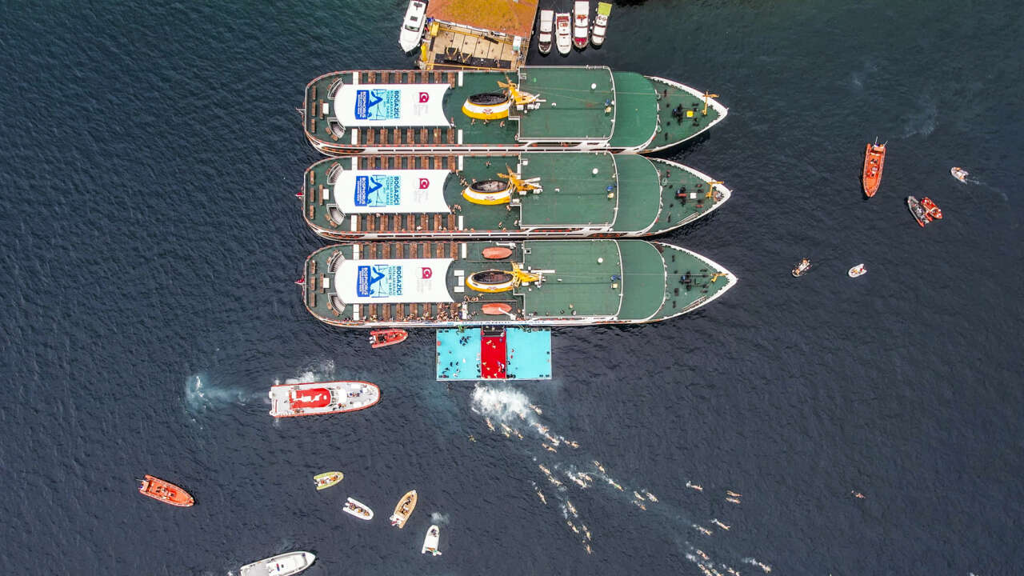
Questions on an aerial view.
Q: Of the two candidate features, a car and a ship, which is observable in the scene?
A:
ship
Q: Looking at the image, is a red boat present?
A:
Yes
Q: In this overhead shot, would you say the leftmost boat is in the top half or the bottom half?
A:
bottom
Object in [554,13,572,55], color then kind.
white boat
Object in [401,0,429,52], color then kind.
white boat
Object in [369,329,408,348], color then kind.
red boat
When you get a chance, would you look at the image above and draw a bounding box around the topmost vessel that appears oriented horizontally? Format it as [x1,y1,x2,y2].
[292,65,728,158]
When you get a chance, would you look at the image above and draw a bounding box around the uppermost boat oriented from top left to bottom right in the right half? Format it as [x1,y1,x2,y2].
[950,168,971,184]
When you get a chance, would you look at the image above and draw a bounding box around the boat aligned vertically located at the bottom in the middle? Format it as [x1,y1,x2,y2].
[424,526,438,557]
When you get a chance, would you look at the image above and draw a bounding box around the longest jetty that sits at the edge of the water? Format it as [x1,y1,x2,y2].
[422,8,539,72]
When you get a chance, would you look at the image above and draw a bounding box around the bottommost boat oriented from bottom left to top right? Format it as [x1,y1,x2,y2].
[388,492,417,528]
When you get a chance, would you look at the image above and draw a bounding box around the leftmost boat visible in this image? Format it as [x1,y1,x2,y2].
[137,477,193,506]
